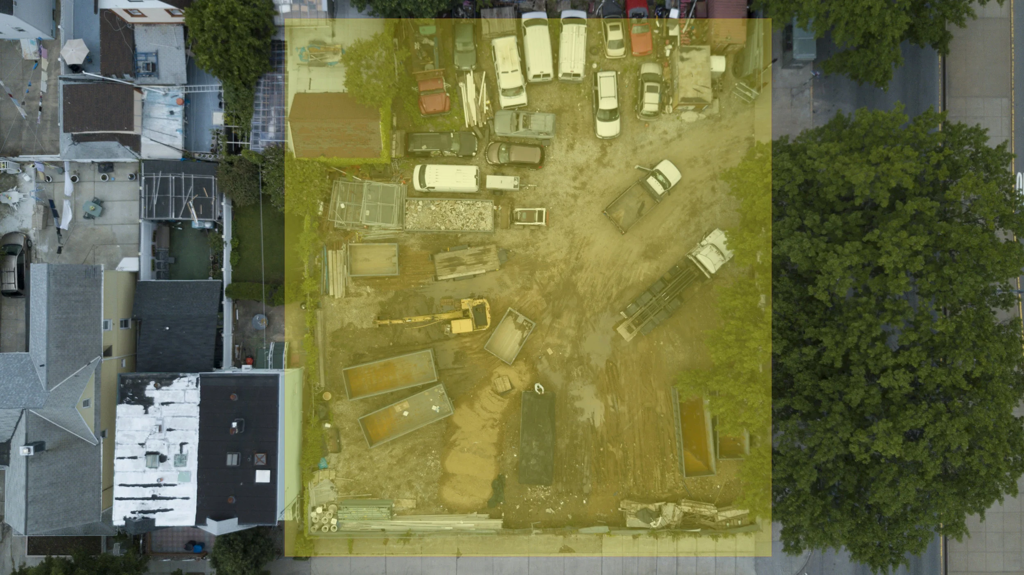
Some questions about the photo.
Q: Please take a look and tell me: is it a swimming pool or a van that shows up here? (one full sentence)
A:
There is a van in the scene.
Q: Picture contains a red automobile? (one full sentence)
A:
Yes, there is a red automobile in the image.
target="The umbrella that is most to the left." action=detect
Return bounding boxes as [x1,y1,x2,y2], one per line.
[62,39,97,67]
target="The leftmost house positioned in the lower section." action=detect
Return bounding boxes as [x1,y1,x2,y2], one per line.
[0,263,138,536]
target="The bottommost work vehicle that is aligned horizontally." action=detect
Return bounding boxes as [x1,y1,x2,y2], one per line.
[372,298,491,335]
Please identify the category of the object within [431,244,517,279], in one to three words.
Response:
trailer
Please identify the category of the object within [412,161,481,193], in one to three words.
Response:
van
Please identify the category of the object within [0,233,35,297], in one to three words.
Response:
car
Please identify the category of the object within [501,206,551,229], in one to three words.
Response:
work vehicle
